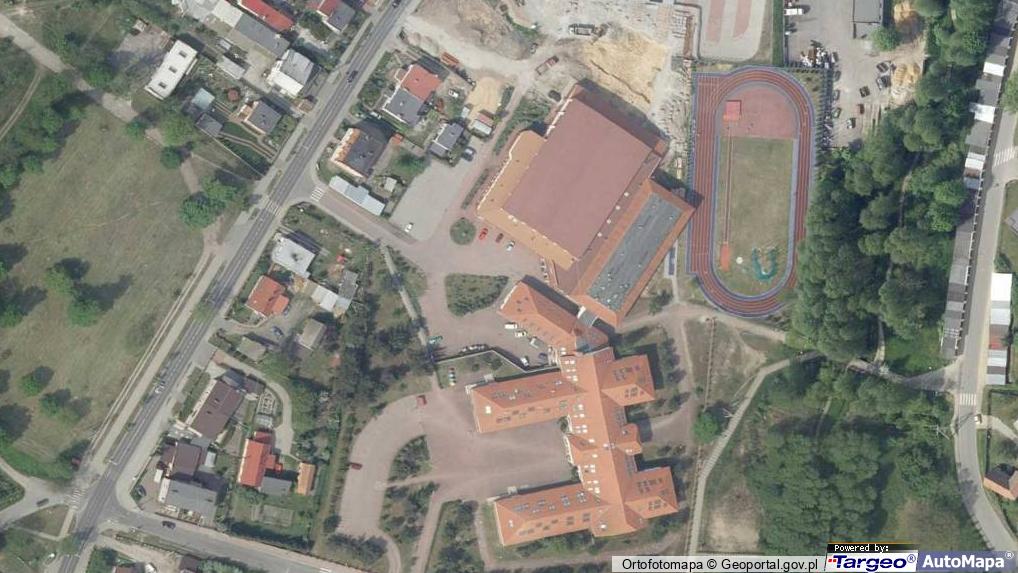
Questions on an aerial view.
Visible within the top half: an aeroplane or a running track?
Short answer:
running track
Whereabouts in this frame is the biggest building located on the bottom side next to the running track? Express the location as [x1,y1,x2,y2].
[462,281,678,545]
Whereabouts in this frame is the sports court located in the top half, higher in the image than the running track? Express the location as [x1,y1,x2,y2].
[671,0,764,61]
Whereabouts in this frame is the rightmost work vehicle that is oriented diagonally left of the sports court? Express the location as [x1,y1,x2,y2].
[588,24,606,40]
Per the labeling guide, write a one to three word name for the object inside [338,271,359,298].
shed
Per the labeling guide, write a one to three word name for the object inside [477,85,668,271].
building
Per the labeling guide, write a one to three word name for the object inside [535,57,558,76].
vehicle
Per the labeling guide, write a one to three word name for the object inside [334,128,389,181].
house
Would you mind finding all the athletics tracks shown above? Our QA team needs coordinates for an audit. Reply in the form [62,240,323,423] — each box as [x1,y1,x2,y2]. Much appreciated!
[686,66,814,316]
